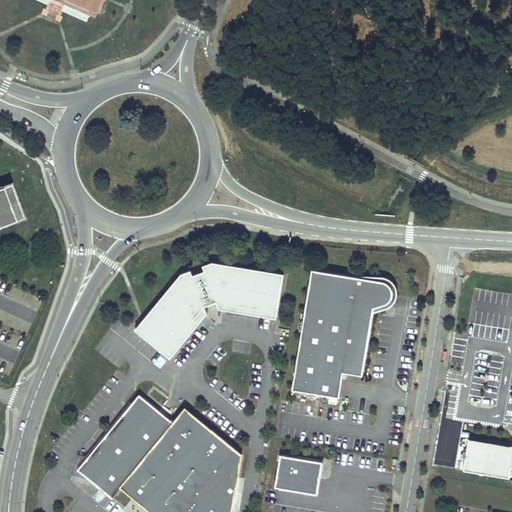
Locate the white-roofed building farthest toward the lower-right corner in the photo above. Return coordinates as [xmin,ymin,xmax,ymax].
[464,441,512,481]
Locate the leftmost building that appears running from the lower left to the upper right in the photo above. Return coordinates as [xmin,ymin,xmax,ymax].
[77,396,171,500]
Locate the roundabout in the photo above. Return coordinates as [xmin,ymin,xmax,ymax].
[54,72,221,238]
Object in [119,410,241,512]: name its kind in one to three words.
building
